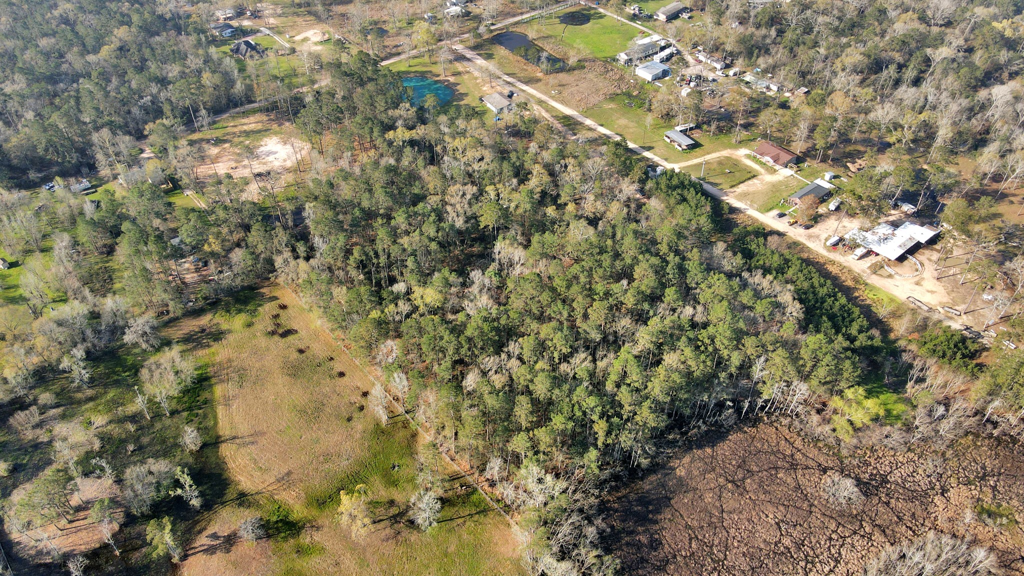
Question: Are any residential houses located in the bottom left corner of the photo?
No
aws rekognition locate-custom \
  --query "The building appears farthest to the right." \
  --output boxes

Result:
[843,222,940,264]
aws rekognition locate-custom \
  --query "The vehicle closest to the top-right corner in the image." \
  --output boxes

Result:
[901,199,919,214]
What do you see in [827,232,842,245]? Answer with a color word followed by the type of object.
white vehicle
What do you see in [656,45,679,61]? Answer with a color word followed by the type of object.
white vehicle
